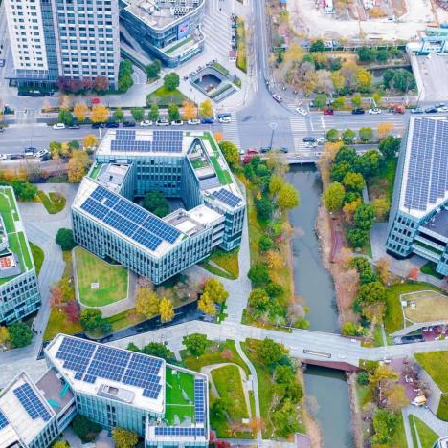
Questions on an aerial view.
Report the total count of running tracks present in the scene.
zero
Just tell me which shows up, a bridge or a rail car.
bridge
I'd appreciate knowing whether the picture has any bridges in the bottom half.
Yes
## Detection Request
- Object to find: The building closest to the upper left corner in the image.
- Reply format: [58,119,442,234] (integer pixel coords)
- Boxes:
[2,0,119,92]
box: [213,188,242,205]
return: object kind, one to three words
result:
solar array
